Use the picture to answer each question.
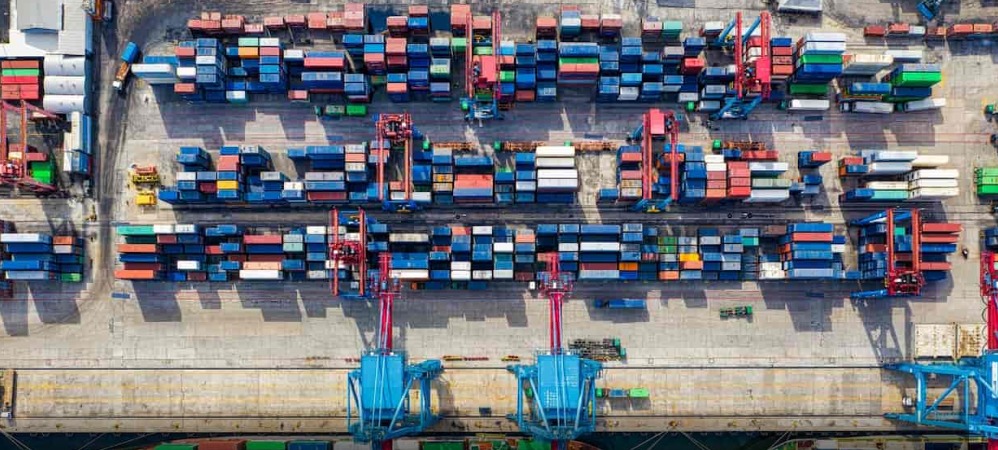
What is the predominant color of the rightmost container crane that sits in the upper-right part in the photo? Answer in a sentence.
The color of the rightmost container crane that sits in the upper-right part is red.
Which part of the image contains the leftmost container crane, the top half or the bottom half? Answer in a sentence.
You can find the leftmost container crane in the top half.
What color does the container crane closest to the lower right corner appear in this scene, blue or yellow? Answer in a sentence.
The container crane closest to the lower right corner looks blue in the image.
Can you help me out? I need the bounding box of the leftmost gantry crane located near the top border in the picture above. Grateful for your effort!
[465,10,505,117]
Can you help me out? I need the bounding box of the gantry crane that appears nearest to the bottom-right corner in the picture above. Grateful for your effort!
[882,251,998,450]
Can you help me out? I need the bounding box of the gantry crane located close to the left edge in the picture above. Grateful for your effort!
[0,97,72,195]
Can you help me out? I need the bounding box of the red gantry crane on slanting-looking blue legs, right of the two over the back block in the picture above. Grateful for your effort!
[710,11,771,117]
